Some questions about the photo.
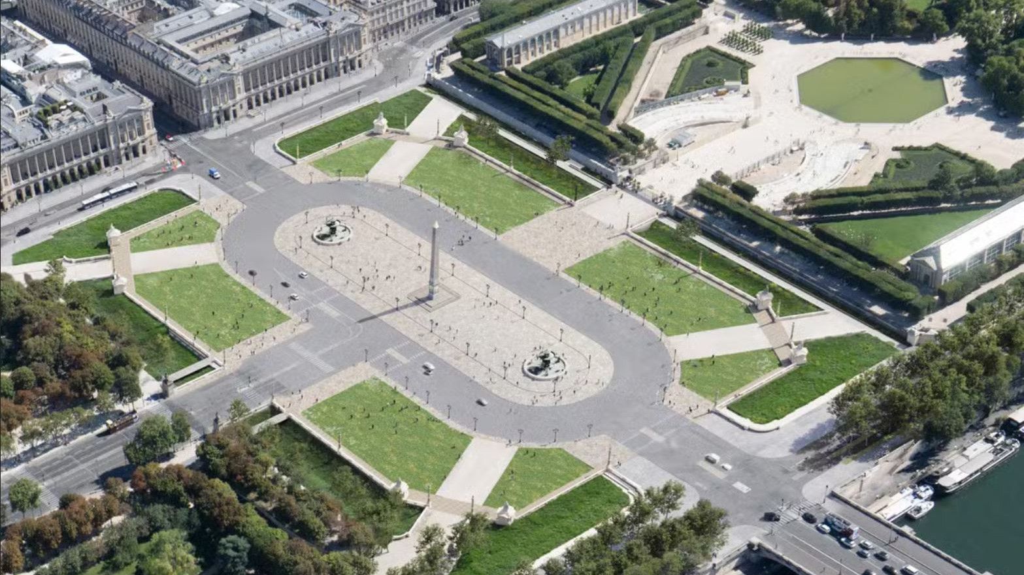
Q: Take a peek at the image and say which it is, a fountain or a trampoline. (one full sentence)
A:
I can see a fountain in this picture.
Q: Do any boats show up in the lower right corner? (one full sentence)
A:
Yes, a boat is visible in the lower right corner.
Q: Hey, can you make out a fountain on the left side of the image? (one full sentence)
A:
Yes, on the left side of the image there is a fountain.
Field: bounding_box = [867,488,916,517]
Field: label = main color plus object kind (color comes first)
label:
white boat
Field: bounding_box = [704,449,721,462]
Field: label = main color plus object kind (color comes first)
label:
white vehicle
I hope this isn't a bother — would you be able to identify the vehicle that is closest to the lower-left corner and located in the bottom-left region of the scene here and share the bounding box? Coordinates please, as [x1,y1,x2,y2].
[104,407,138,433]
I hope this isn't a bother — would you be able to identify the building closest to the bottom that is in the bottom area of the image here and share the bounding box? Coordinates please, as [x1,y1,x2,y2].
[496,501,515,530]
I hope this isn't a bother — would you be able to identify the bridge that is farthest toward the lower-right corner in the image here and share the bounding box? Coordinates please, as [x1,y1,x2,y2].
[746,487,977,575]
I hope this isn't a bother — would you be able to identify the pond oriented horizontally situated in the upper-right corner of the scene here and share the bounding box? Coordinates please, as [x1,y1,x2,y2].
[793,55,950,124]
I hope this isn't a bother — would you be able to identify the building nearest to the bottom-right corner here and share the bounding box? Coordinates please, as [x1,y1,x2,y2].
[791,343,808,369]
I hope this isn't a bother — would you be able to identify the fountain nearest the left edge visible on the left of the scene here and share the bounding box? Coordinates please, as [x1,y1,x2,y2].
[312,215,352,244]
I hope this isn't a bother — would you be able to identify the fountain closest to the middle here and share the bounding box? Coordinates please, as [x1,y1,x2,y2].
[522,347,567,380]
